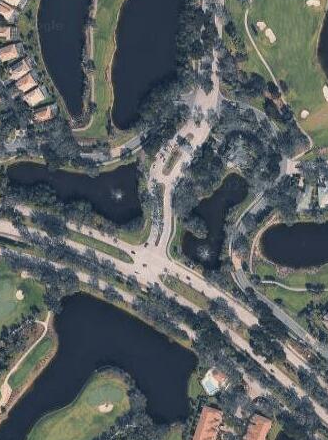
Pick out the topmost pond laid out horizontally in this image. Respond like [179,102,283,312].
[7,162,143,225]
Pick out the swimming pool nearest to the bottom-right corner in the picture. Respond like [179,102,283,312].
[202,368,226,395]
